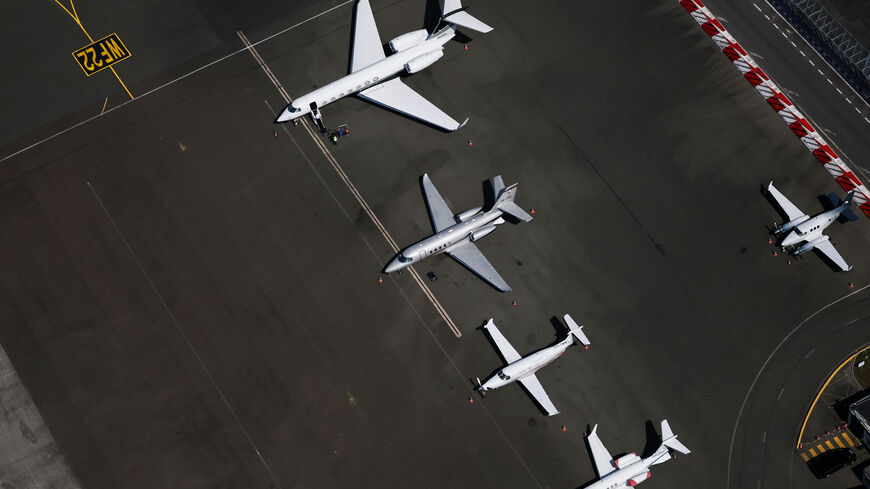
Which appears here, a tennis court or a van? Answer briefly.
van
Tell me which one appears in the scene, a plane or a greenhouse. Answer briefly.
plane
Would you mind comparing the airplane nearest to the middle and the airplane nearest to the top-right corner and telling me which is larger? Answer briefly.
the airplane nearest to the middle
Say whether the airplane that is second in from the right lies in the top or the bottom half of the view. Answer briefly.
bottom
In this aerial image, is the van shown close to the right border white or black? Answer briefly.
black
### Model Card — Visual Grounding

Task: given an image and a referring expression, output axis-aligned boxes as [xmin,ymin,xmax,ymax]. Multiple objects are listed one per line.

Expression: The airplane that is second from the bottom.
[476,314,590,414]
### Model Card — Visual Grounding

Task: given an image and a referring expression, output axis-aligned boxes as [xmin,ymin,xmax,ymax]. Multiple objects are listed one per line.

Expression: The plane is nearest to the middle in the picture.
[386,174,534,292]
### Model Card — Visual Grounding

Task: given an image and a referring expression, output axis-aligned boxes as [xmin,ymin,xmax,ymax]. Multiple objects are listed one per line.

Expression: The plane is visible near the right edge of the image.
[768,182,858,271]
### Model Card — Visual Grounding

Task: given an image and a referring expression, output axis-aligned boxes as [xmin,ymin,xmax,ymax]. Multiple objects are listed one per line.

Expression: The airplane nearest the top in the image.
[278,0,494,134]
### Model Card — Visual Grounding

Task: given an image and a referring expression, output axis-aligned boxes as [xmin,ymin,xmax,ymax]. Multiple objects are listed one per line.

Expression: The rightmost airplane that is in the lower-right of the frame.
[583,419,691,489]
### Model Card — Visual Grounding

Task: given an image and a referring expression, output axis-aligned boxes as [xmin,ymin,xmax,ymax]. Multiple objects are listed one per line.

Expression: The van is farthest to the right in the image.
[809,447,856,481]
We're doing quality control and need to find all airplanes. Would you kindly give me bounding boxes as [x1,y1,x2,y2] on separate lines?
[583,419,691,489]
[278,0,494,134]
[768,182,858,271]
[386,174,534,292]
[476,314,590,414]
